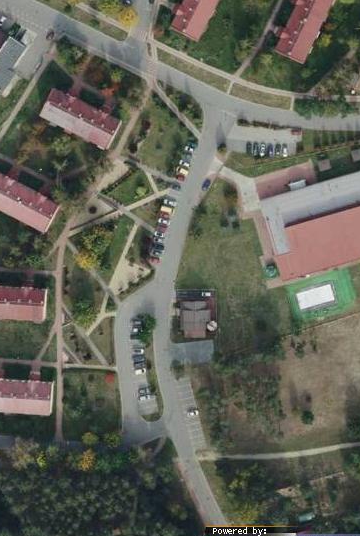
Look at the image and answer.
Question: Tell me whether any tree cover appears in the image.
Yes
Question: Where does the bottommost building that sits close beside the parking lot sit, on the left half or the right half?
right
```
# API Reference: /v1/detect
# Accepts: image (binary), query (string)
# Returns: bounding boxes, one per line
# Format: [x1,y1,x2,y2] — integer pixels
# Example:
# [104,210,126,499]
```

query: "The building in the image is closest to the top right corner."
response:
[274,0,335,64]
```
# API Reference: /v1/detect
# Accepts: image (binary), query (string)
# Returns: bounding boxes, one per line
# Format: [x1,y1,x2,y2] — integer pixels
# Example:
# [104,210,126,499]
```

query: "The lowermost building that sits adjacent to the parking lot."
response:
[261,171,360,281]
